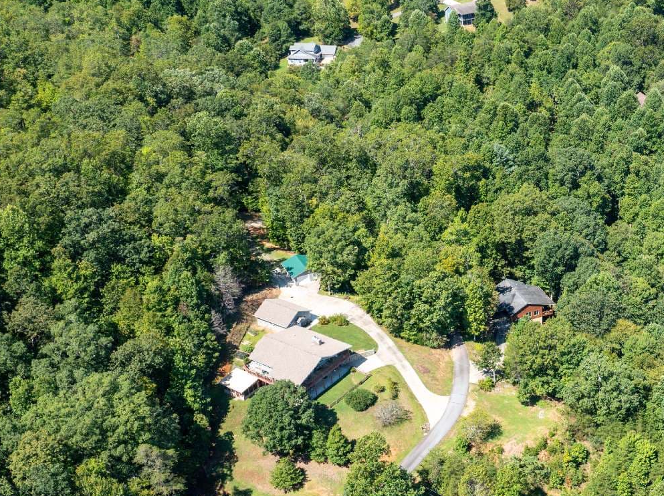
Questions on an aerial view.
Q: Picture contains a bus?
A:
No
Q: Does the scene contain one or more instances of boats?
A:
No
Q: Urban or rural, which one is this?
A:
rural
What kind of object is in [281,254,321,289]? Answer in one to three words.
building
